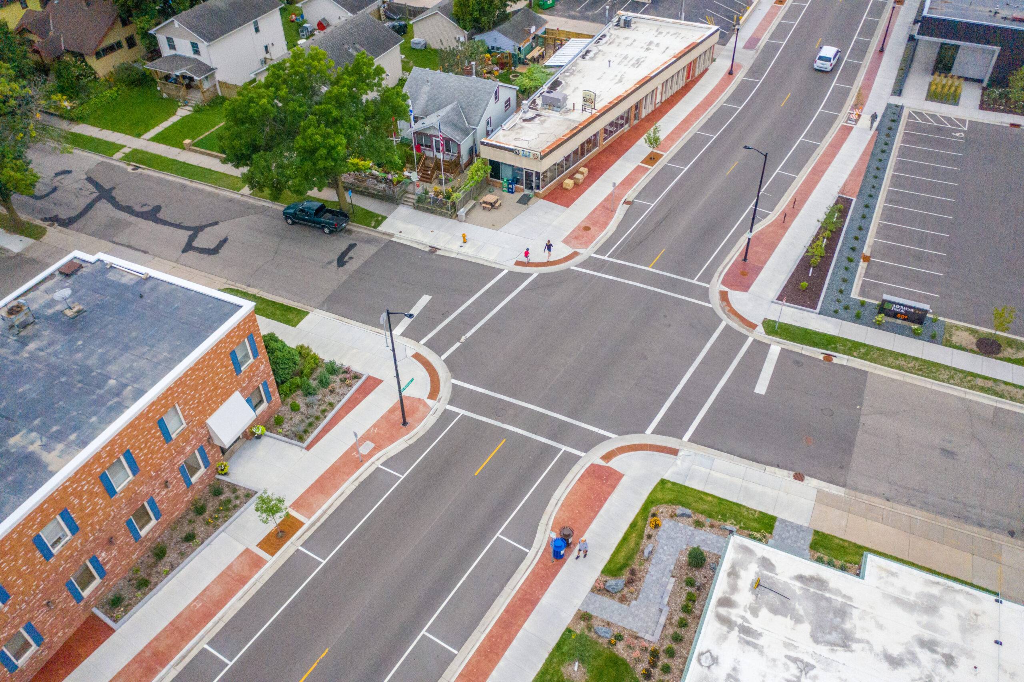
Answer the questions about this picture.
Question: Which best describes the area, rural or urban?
urban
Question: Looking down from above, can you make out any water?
No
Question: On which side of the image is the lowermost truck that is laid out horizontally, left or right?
left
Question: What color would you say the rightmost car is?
white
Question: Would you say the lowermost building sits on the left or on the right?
right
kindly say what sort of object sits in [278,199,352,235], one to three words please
truck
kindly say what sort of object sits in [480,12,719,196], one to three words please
building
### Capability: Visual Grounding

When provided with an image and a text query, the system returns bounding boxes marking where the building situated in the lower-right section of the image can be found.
[683,537,1024,682]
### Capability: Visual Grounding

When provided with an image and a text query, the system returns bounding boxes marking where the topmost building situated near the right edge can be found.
[891,0,1024,85]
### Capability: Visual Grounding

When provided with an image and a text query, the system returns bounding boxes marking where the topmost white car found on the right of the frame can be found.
[812,46,842,71]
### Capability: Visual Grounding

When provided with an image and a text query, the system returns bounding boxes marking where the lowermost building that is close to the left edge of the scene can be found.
[0,250,279,682]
